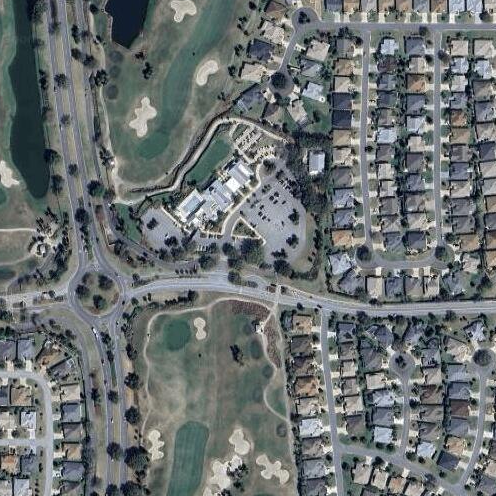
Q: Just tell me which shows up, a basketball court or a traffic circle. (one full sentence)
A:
The one in the frame is a traffic circle.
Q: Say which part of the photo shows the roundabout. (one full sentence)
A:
Look in the left portion of the view to spot the roundabout.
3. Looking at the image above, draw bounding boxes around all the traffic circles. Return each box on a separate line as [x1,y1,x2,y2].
[67,264,126,322]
